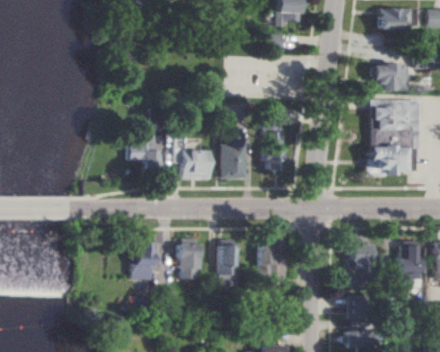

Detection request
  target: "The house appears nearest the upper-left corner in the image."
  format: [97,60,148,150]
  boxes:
[127,139,164,166]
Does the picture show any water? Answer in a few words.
Yes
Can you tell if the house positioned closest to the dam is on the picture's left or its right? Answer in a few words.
left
